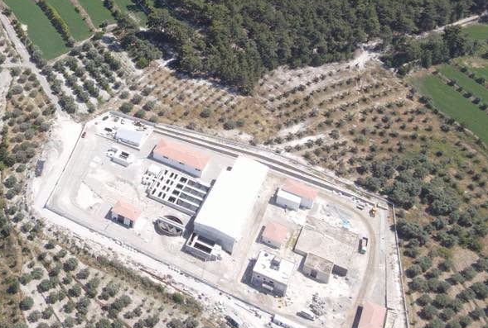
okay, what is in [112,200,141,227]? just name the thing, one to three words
building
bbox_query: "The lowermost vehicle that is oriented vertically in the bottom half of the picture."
[358,229,370,252]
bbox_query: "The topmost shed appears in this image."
[115,130,143,151]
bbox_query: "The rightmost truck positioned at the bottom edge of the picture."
[289,299,325,326]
